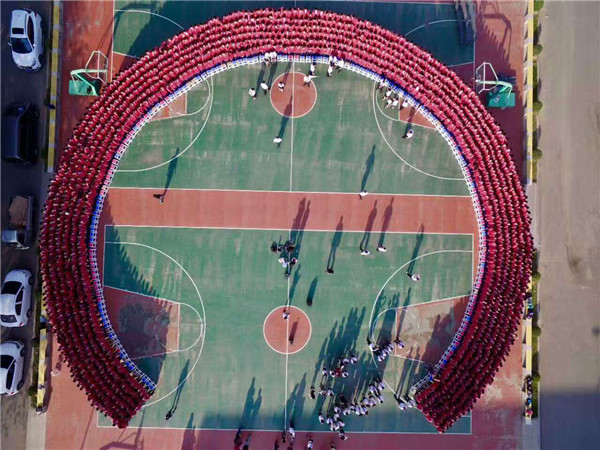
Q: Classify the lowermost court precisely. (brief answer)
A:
basketball court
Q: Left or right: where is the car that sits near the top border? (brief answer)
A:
left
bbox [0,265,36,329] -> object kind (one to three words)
car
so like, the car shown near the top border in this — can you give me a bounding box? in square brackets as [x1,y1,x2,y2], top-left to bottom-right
[6,6,46,71]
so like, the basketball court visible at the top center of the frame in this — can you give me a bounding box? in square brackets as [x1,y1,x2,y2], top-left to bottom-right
[107,0,474,196]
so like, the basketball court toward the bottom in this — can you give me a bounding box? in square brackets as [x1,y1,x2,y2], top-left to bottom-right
[97,226,473,434]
